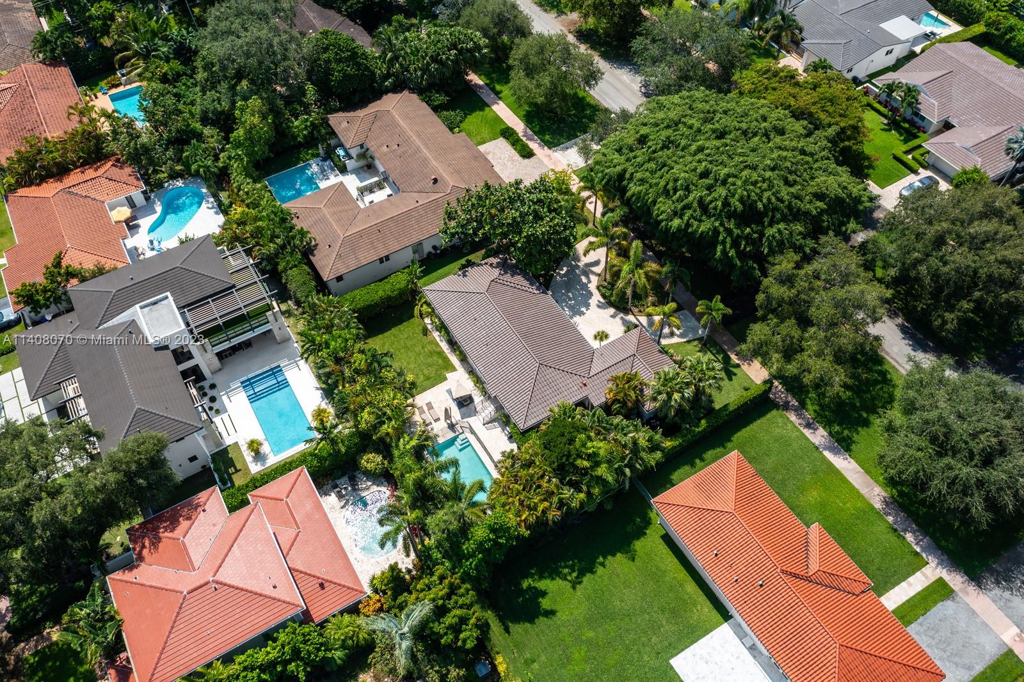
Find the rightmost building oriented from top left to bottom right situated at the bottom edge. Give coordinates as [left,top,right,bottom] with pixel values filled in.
[652,448,946,682]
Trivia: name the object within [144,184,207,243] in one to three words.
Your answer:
swimming pool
